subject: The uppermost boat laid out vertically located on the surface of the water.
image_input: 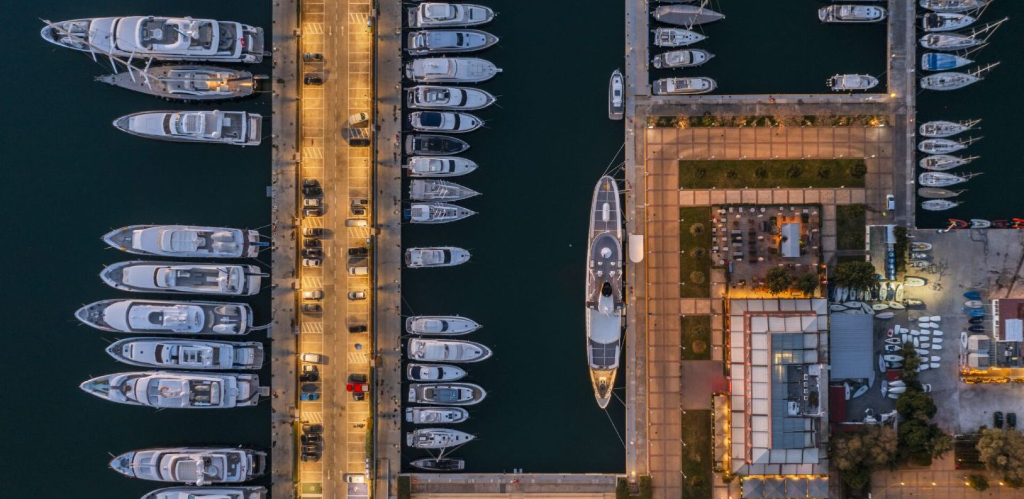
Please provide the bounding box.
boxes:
[607,70,625,120]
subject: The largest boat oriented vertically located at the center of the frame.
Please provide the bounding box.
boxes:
[586,144,632,450]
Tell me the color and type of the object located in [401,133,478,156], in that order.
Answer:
black boat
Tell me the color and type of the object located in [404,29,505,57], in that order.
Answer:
blue boat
